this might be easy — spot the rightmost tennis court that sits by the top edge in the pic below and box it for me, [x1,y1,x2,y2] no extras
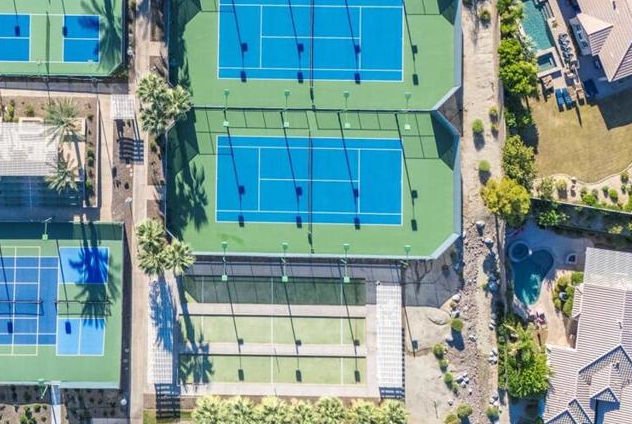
[169,0,454,110]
